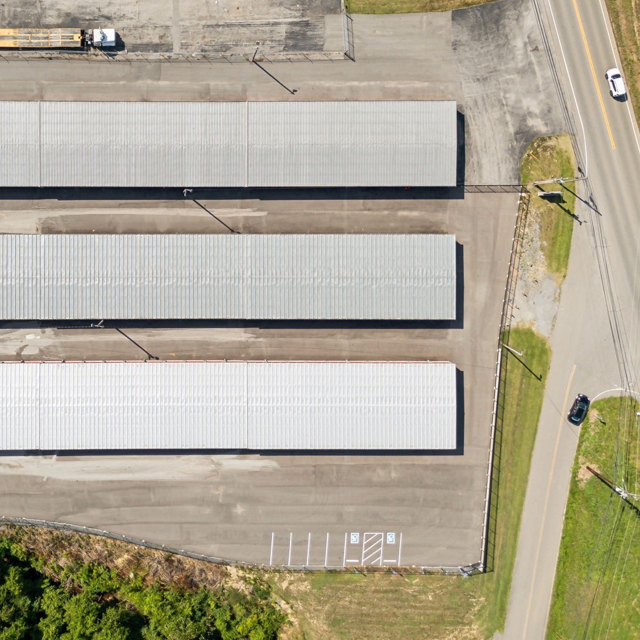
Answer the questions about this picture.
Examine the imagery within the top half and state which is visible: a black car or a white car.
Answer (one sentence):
The feature located within the top half is a white car.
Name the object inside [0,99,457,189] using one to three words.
building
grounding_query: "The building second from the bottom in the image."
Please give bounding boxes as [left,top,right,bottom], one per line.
[0,233,457,321]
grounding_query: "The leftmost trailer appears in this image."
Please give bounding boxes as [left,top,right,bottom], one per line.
[0,28,94,48]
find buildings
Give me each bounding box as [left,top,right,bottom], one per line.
[0,99,457,189]
[0,233,457,321]
[0,359,457,451]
